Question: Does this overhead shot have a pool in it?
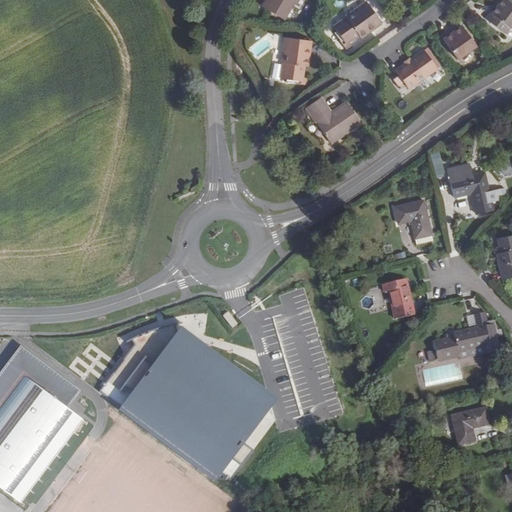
Yes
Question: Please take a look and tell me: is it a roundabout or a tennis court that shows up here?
roundabout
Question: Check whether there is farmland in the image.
Yes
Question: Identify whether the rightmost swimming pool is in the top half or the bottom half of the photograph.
bottom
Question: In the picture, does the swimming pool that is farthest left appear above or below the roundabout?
above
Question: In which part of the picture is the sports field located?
bottom left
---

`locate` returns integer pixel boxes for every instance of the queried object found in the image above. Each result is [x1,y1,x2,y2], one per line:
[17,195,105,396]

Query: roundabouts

[164,198,274,300]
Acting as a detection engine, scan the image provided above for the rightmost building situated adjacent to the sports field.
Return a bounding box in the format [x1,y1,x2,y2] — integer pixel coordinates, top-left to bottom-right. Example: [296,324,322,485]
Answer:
[101,311,276,483]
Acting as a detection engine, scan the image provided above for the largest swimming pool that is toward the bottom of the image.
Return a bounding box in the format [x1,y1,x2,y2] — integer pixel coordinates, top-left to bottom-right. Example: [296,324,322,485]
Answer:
[422,361,464,388]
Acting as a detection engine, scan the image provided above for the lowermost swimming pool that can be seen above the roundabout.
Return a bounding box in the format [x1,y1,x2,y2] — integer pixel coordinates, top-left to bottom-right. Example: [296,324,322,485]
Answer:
[249,33,276,60]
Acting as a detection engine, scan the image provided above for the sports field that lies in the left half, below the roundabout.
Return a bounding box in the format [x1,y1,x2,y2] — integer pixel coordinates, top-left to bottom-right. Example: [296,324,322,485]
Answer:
[44,404,233,512]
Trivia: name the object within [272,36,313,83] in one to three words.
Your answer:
house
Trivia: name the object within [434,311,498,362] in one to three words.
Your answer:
house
